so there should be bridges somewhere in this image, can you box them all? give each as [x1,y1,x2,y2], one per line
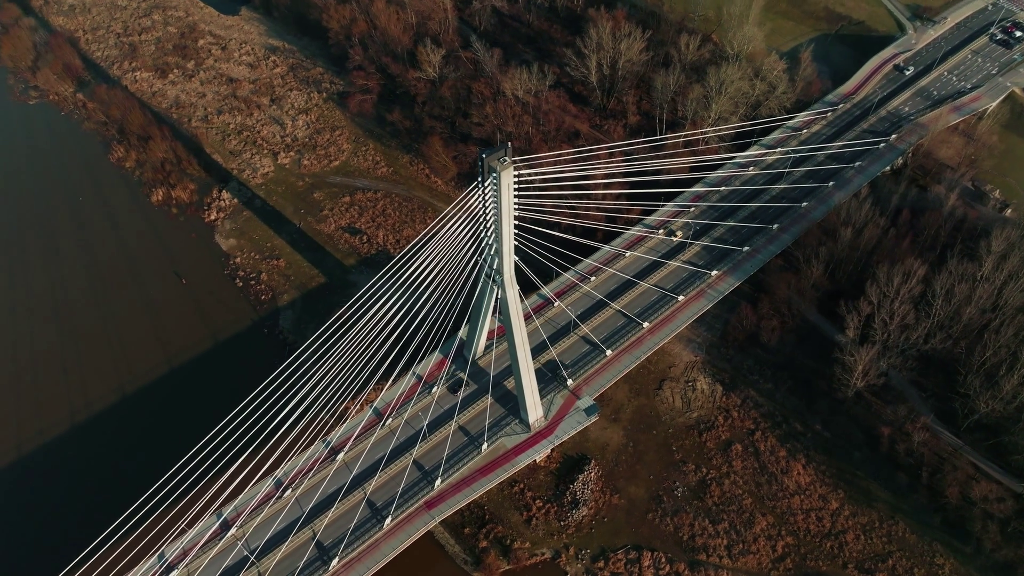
[56,91,918,576]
